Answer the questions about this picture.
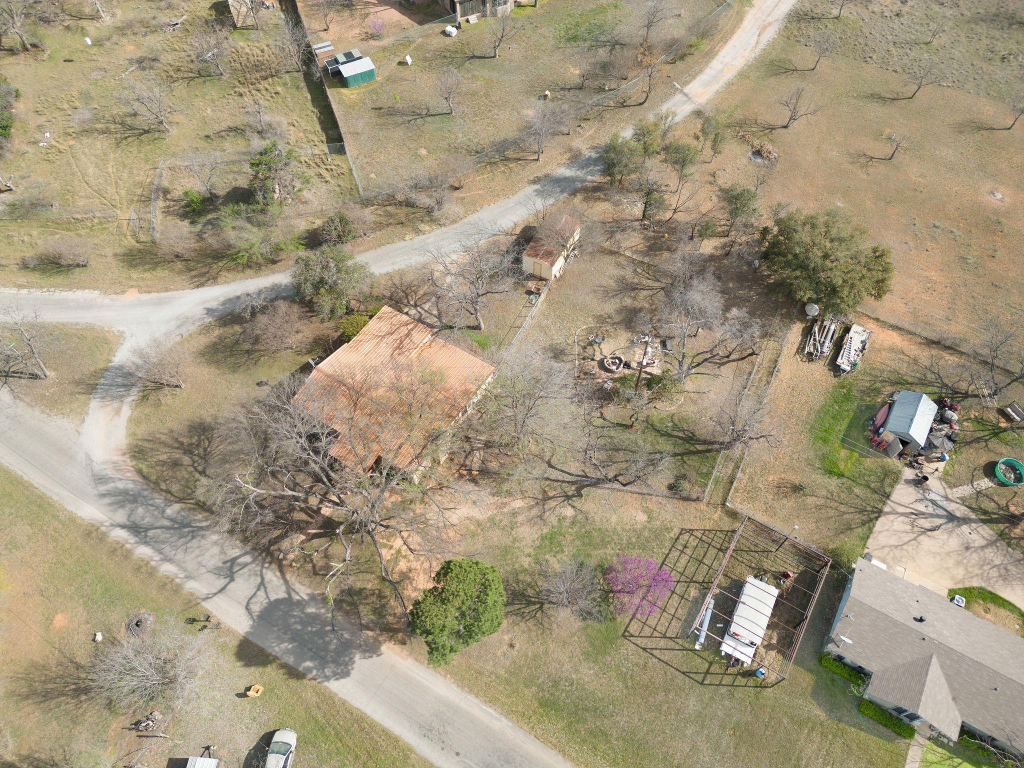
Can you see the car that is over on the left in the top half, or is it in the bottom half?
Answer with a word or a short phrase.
bottom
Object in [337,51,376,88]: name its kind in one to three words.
shed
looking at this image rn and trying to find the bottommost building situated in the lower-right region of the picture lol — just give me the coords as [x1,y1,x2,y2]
[821,554,1024,760]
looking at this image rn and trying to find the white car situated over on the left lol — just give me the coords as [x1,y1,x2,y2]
[265,732,301,768]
